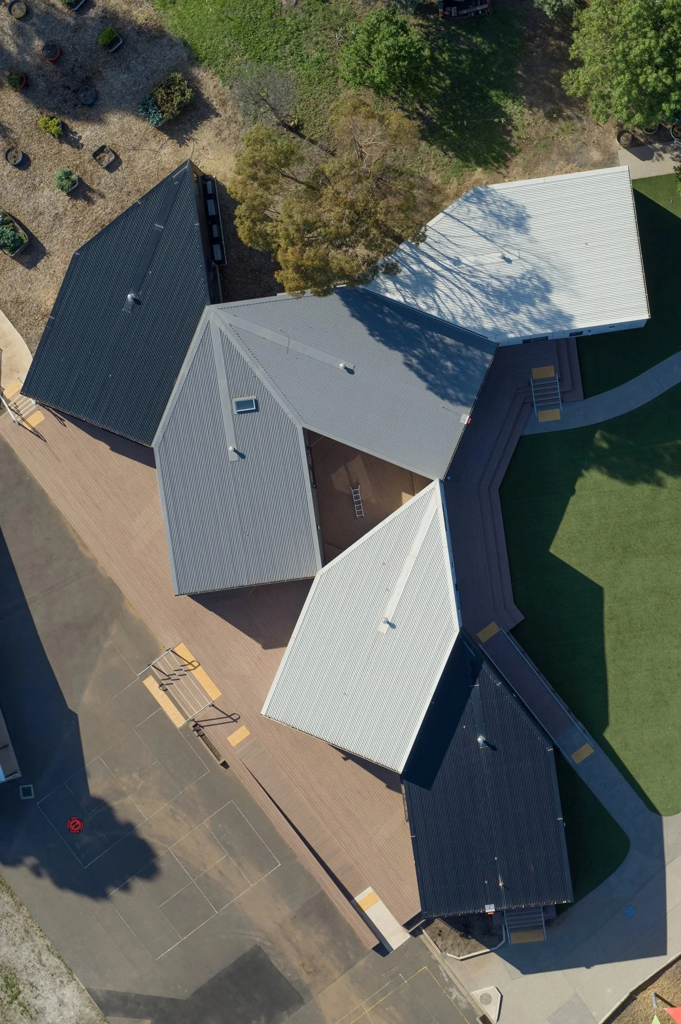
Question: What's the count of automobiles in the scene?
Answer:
0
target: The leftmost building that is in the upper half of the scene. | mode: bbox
[22,159,216,449]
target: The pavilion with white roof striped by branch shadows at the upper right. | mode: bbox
[360,165,653,349]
